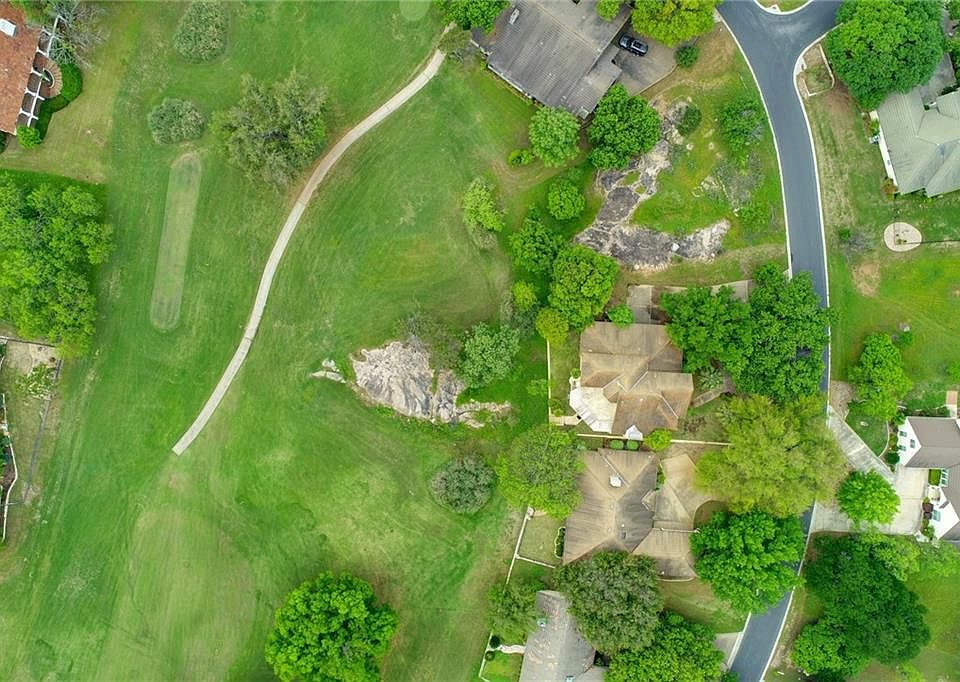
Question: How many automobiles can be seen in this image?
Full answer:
Only 1 automobile is visible.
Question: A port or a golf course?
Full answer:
This image shows a golf course.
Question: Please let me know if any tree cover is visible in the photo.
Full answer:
Yes, tree cover shows up in the scene.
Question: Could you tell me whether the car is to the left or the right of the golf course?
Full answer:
Relative to the golf course, the car is on the right.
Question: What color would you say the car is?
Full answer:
The color of the car is black.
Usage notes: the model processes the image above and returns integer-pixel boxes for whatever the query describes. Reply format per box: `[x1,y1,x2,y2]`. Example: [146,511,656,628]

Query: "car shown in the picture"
[619,33,650,53]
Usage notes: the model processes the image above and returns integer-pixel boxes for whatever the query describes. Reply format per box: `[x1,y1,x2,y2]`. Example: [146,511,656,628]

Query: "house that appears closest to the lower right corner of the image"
[897,416,960,542]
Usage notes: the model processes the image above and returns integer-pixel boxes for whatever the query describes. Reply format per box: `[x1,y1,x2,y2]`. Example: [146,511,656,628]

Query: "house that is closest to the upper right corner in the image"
[865,84,960,197]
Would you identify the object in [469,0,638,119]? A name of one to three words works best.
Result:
house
